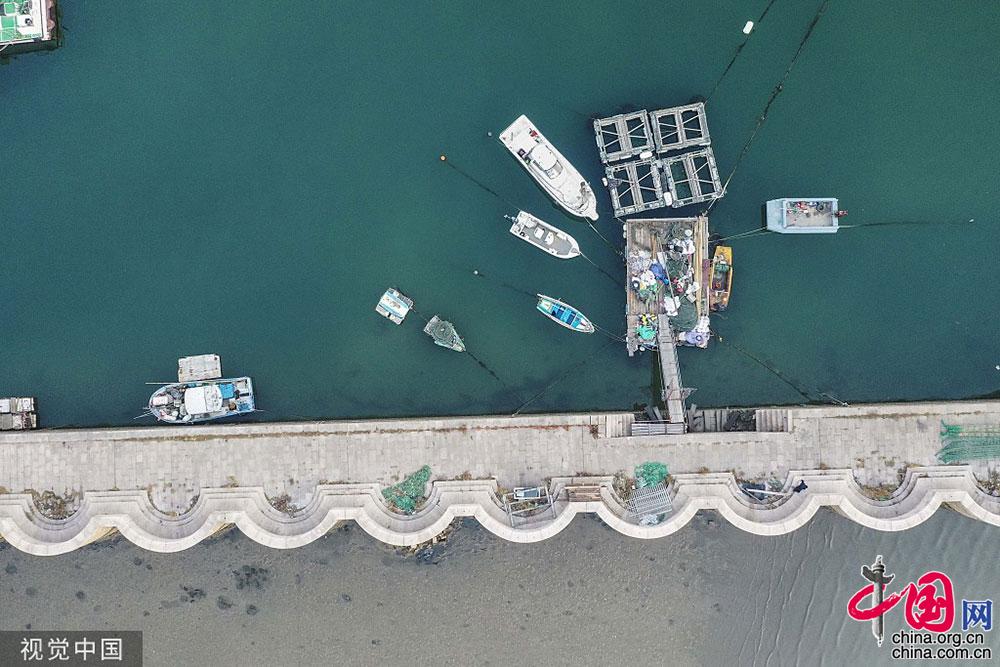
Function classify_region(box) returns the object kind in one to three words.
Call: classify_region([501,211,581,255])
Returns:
boat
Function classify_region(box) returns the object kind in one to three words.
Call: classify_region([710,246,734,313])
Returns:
boat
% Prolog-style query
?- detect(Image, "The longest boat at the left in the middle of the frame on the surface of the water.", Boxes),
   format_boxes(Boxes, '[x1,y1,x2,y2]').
[135,377,255,424]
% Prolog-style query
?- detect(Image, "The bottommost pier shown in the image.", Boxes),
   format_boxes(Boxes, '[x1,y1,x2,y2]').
[0,397,1000,555]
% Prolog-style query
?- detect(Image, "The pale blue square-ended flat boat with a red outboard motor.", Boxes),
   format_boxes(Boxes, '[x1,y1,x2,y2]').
[766,198,847,233]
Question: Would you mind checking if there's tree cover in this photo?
No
